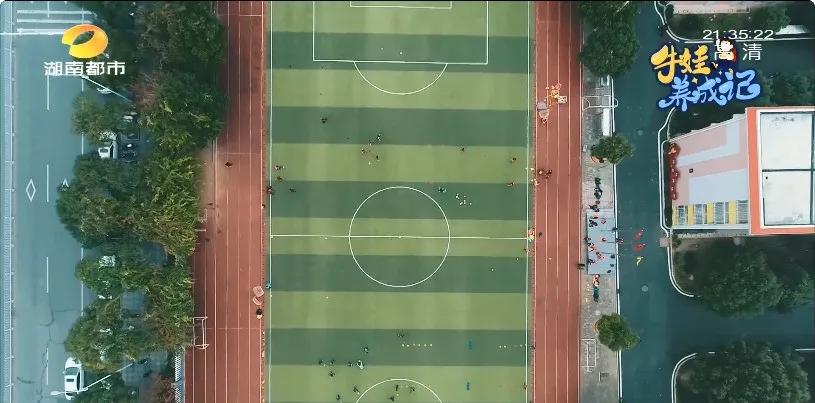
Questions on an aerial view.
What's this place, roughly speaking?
sports ground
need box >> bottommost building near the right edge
[669,108,815,234]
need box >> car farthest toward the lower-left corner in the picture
[60,357,83,400]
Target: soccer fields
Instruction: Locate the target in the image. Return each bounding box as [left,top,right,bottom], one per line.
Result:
[266,0,531,403]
